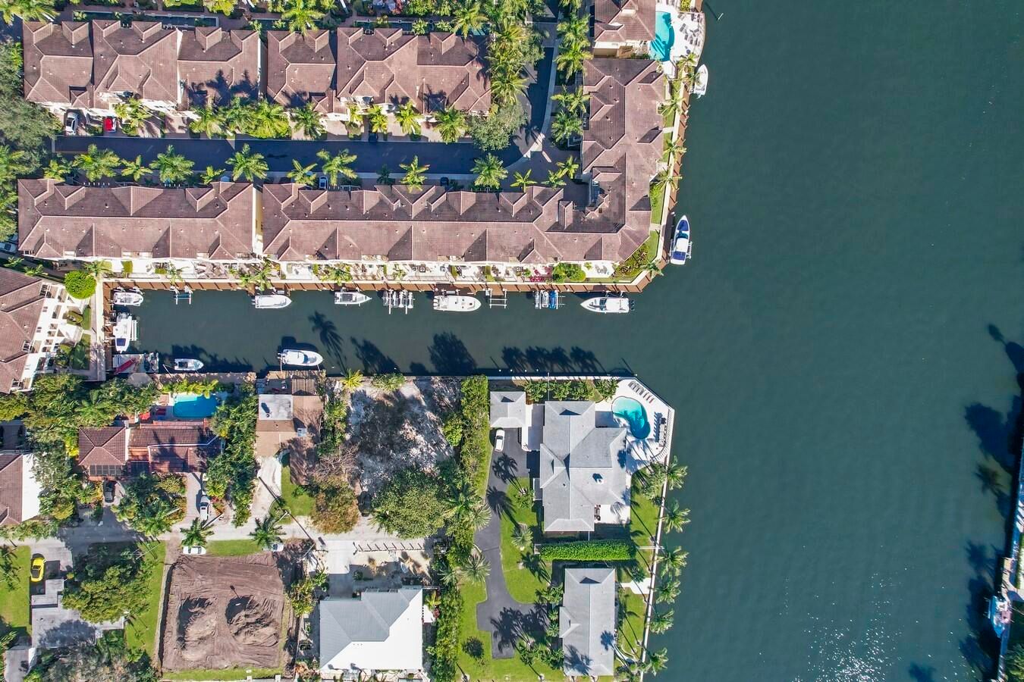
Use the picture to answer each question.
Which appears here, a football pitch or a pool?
pool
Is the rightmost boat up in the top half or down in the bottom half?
bottom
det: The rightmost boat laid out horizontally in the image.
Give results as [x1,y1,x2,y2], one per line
[582,292,634,313]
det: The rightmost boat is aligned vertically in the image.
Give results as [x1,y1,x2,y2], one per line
[986,586,1008,632]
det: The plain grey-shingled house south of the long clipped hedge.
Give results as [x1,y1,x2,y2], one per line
[559,566,615,676]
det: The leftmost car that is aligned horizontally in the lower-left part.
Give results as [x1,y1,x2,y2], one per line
[182,544,207,556]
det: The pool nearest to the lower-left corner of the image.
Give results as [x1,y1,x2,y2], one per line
[171,394,220,419]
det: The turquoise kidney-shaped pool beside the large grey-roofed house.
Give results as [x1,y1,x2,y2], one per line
[612,395,652,441]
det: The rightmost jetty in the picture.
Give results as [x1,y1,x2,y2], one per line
[996,558,1011,601]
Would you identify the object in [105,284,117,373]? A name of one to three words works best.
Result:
pier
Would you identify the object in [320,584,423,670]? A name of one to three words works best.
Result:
house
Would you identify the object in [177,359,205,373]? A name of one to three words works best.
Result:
boat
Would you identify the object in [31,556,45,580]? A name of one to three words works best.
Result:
car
